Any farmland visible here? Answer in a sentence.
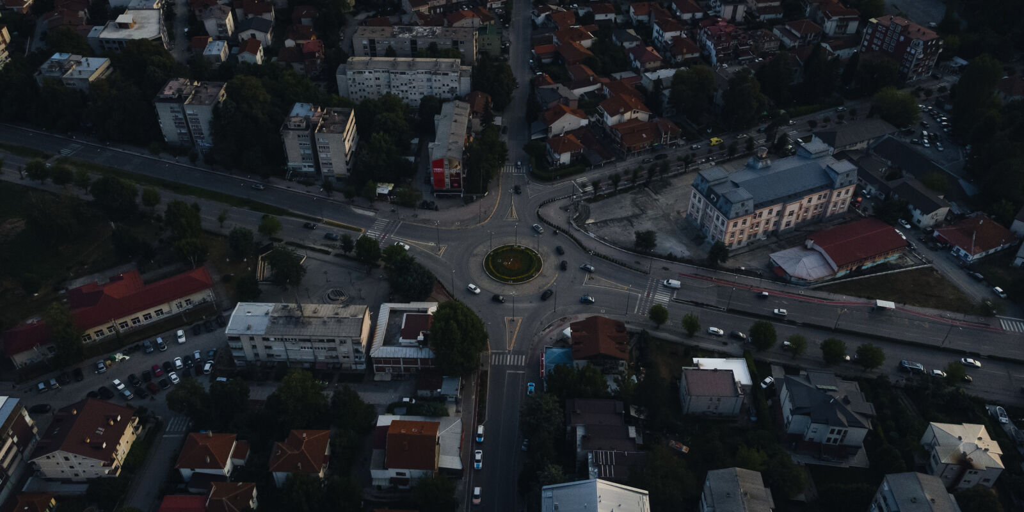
No, the picture contains no farmland.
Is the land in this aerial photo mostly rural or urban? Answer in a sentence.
The land in this view is best described as urban.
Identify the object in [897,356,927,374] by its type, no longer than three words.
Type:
vehicle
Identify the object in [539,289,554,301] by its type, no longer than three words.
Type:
vehicle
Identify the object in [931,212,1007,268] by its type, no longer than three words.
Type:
house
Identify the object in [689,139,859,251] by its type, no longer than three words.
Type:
building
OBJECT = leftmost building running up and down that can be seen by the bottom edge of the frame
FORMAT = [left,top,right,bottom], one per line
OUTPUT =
[0,398,43,492]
